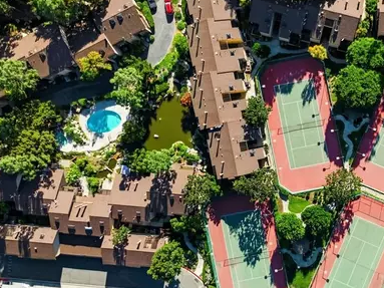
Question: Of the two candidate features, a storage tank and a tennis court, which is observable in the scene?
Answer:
tennis court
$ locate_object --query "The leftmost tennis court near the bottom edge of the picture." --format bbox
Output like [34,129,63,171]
[208,190,286,288]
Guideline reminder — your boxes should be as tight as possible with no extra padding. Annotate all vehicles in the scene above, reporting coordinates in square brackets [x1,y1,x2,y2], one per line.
[164,0,173,14]
[146,0,155,11]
